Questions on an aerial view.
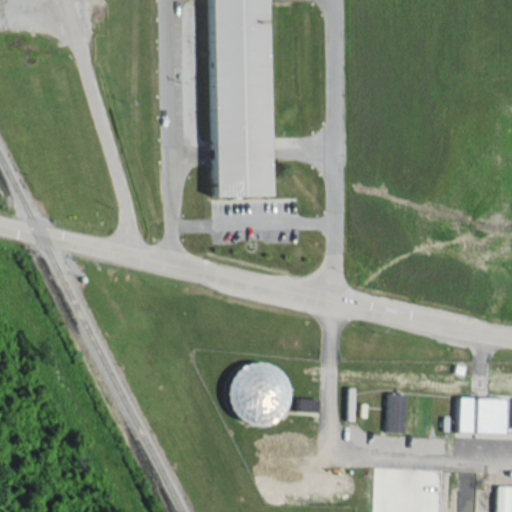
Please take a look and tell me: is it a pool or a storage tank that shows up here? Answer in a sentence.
The image shows a storage tank.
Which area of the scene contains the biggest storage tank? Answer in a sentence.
Look in the bottom portion of the view to spot the biggest storage tank.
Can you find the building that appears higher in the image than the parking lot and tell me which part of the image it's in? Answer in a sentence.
The building that appears higher in the image than the parking lot is in the top part of the image.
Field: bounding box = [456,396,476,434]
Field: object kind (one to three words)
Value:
building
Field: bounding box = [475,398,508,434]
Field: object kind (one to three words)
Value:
building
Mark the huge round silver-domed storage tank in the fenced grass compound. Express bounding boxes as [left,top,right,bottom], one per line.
[226,361,294,429]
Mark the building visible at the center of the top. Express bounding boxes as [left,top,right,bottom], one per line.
[207,0,276,203]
